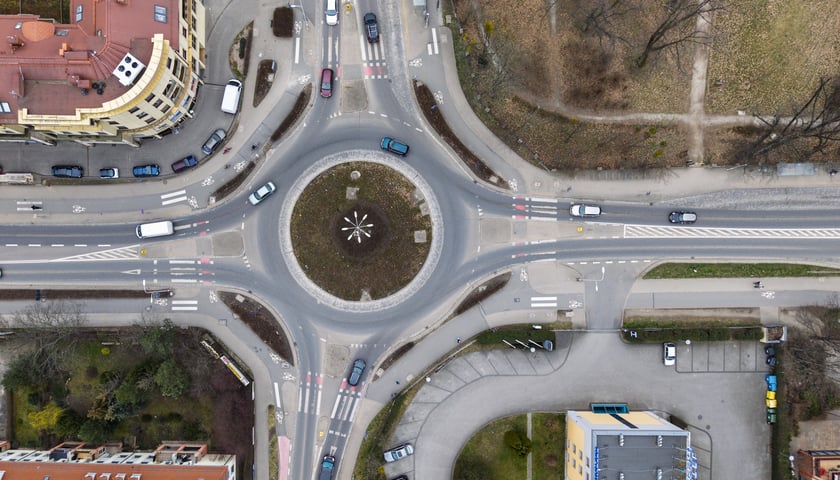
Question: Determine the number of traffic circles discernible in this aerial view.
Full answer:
I count 1 traffic circle.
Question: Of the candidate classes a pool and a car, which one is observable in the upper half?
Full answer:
Visible in the upper half is a car.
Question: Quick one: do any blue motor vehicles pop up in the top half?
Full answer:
Yes, in the top half there is a blue motor vehicle.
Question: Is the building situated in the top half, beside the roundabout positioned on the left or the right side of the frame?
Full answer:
The building situated in the top half, beside the roundabout appears in the left half of the scene.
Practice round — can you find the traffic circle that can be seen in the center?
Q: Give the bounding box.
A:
[244,116,479,350]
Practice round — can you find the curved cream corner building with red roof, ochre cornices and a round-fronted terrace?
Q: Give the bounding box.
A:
[0,0,213,155]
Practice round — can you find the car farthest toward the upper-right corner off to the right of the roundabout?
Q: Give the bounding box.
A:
[669,208,700,223]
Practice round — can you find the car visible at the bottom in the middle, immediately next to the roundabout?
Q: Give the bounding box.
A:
[346,356,367,388]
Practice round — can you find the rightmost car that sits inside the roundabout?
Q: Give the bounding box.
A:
[379,135,409,155]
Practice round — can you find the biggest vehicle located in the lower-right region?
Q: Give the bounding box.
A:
[664,343,680,368]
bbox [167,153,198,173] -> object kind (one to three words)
car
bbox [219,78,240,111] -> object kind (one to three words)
vehicle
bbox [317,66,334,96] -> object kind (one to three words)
car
